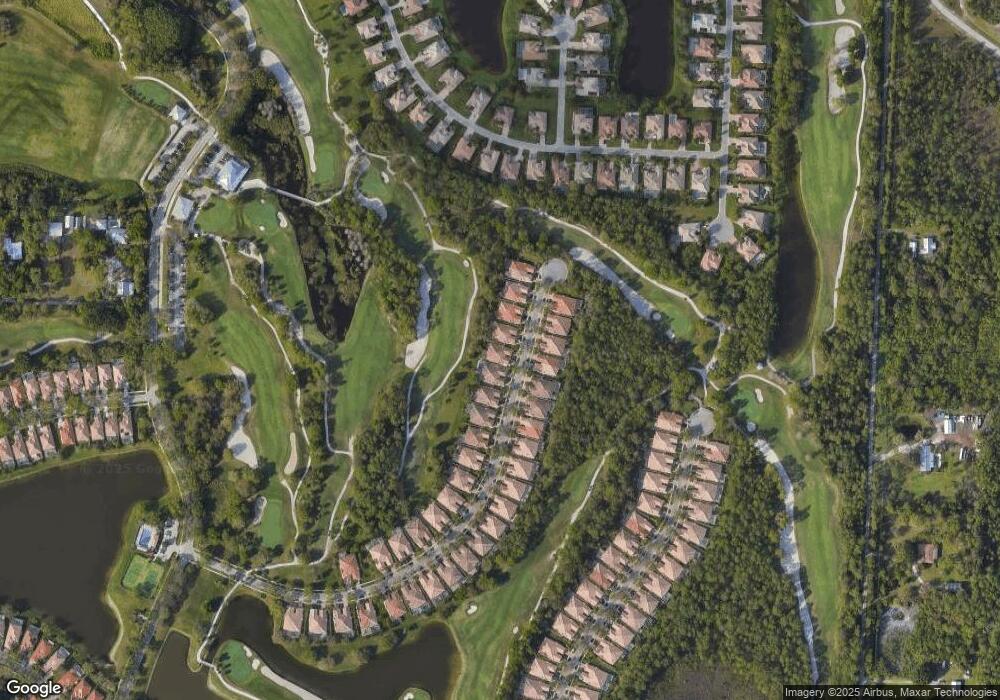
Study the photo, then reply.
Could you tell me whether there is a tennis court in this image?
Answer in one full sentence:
Yes, there's a tennis court down there.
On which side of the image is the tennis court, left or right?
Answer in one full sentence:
It is on the left.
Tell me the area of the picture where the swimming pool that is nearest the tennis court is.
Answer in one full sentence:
The swimming pool that is nearest the tennis court sits in the bottom left section of the image.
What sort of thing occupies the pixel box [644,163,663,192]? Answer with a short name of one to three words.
house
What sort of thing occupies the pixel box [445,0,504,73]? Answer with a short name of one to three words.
pond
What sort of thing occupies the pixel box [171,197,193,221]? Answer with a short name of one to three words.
building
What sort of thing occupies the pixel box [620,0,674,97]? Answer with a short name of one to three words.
pond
